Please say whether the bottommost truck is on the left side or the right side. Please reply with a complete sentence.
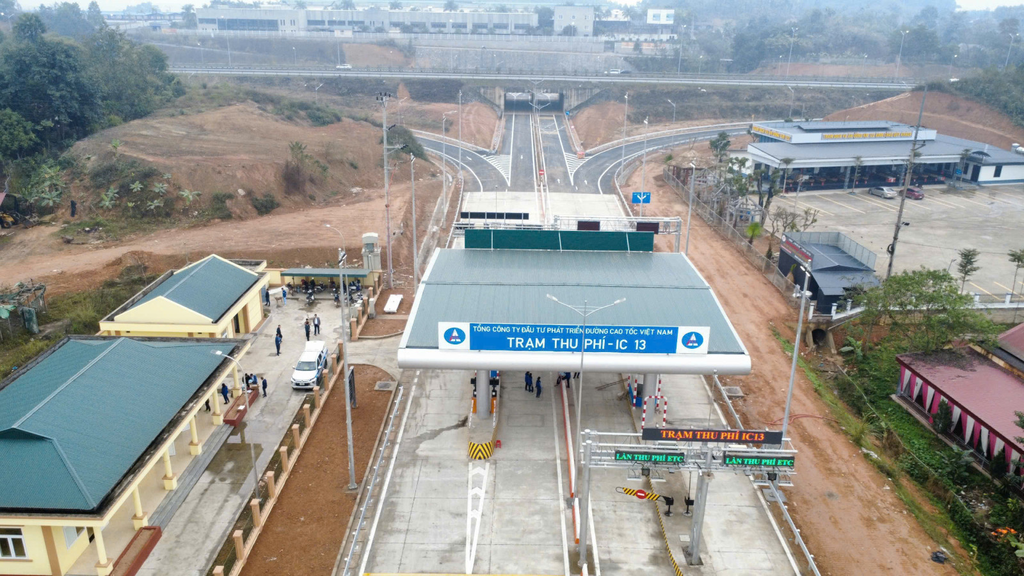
It is on the left.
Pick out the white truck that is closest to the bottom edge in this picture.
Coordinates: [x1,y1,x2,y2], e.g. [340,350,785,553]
[283,338,327,384]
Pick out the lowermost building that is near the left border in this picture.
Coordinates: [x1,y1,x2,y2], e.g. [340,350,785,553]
[0,334,251,576]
